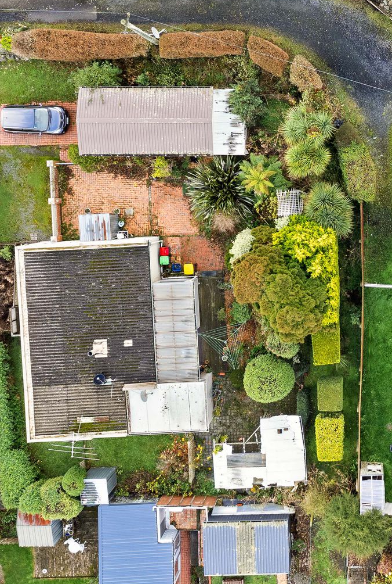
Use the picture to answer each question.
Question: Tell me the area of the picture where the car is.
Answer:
top left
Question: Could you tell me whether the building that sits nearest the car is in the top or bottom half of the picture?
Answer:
top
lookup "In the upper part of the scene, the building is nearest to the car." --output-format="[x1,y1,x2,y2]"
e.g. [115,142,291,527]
[76,86,216,157]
